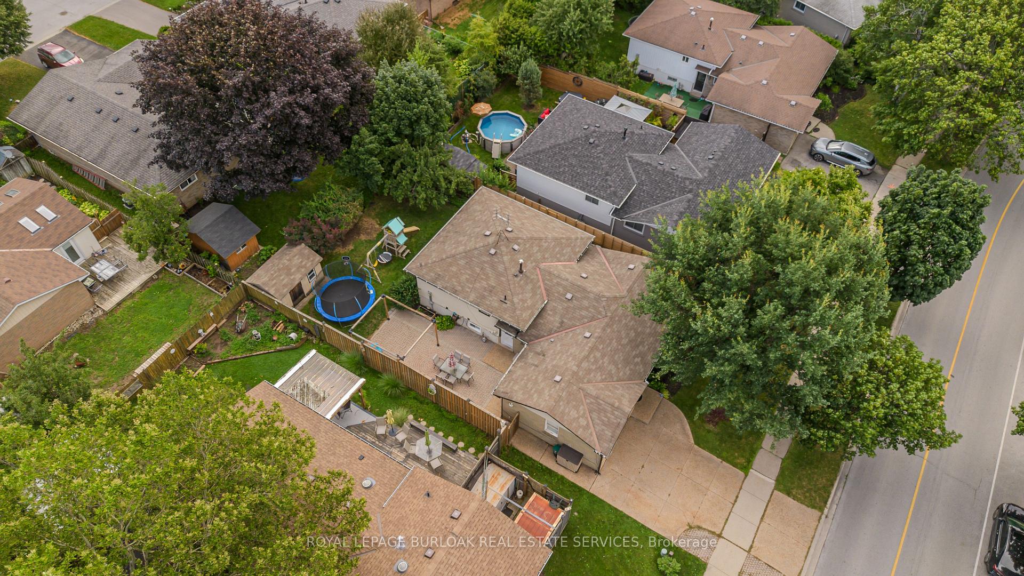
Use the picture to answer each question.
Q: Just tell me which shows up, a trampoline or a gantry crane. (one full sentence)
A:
This aerial view contains a trampoline.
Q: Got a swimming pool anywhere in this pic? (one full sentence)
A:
Yes, there's a swimming pool here.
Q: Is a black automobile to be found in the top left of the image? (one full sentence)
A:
No, there's no black automobile to be seen in the top left of the image.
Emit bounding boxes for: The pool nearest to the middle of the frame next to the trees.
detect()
[479,112,526,154]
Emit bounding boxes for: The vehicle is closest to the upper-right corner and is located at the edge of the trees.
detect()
[811,138,881,177]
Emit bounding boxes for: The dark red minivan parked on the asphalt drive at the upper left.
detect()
[35,40,87,69]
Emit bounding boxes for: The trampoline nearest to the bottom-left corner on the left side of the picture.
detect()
[313,261,378,330]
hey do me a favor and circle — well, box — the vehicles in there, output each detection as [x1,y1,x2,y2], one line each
[984,504,1024,576]
[35,40,87,69]
[811,138,881,177]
